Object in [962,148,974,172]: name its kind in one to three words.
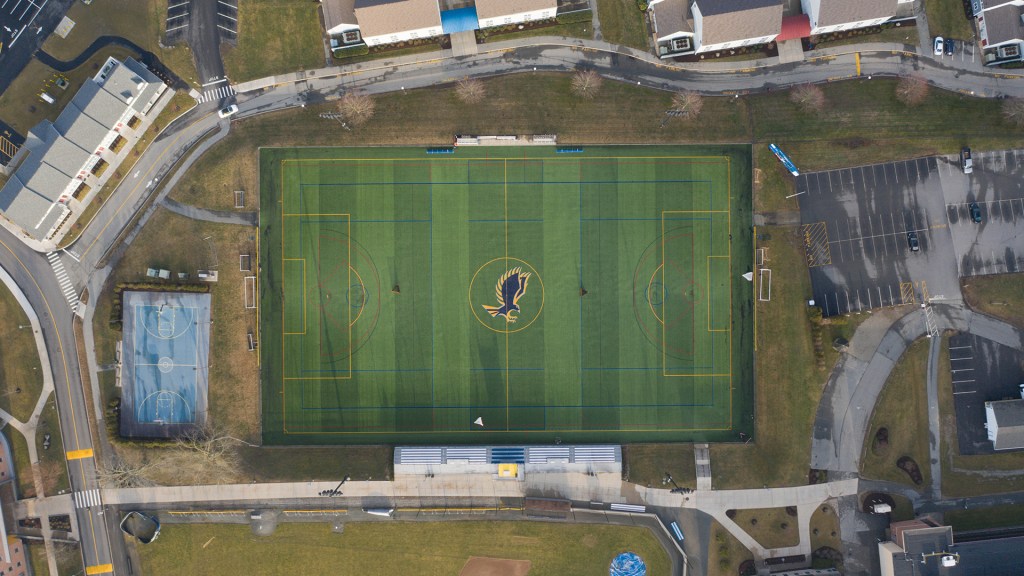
vehicle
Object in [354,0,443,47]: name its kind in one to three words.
house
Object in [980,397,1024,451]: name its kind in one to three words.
building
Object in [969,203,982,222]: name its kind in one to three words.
vehicle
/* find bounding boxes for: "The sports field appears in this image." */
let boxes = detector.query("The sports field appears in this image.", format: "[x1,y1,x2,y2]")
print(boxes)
[259,143,754,446]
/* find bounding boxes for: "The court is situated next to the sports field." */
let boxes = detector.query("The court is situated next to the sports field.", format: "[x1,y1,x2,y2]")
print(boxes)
[120,291,211,440]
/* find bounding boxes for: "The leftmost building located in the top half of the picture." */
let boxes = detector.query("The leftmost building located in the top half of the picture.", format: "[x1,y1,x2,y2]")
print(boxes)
[0,54,167,238]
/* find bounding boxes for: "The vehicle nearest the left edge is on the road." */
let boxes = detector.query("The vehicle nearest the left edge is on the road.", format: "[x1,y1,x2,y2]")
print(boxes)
[217,103,239,117]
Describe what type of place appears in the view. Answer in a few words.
sports ground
